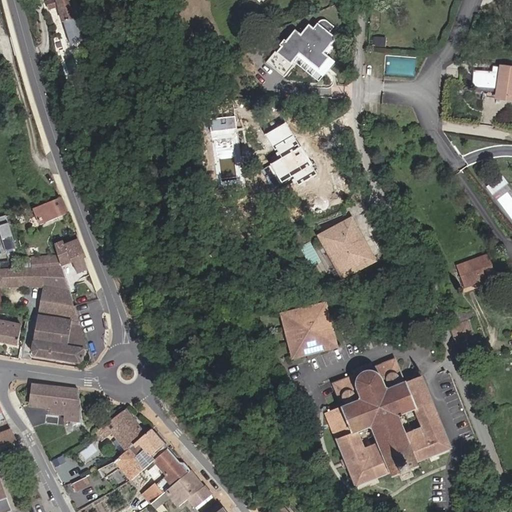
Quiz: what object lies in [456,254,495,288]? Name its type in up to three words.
house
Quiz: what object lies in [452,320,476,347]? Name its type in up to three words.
shed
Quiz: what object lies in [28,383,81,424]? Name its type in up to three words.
house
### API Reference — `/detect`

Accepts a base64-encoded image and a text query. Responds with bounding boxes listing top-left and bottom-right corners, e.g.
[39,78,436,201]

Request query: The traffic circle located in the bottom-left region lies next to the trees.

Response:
[84,340,154,404]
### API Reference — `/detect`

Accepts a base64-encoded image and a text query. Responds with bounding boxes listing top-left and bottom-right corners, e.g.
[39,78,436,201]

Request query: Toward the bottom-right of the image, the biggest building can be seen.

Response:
[325,358,448,487]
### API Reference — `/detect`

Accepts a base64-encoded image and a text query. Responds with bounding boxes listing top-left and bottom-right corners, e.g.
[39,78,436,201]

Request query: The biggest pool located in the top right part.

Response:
[384,55,417,78]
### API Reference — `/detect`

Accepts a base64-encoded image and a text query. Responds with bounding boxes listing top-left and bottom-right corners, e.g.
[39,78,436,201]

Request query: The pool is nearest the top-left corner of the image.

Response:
[218,158,237,180]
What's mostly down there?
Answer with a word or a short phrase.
trees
